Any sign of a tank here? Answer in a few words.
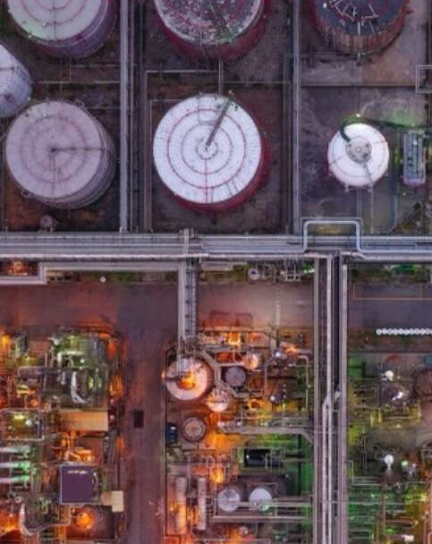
Yes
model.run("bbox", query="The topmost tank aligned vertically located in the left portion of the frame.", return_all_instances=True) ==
[0,39,39,129]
